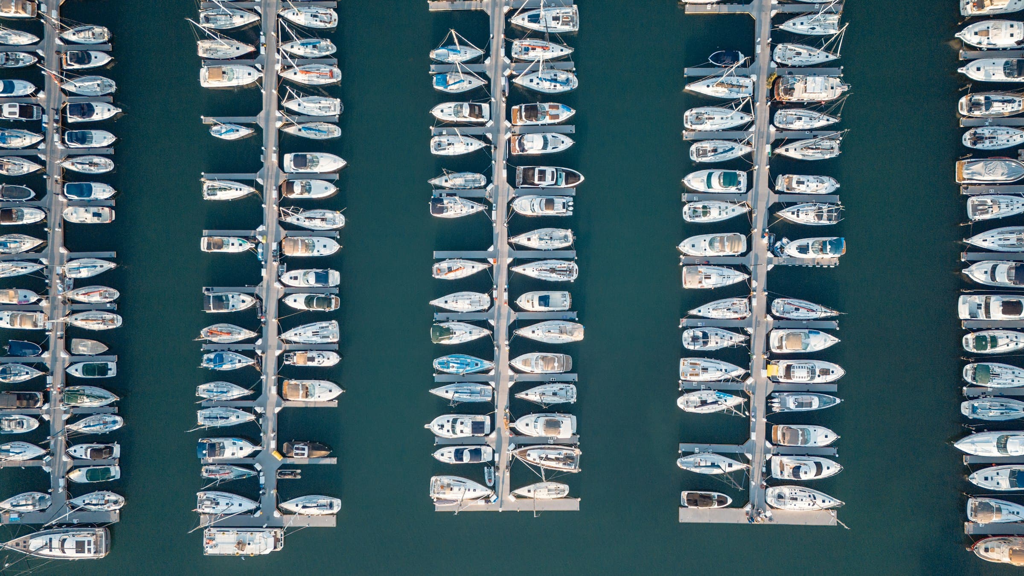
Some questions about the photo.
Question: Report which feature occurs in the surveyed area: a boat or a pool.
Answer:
boat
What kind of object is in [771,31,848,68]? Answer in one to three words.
boat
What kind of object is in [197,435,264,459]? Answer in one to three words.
boat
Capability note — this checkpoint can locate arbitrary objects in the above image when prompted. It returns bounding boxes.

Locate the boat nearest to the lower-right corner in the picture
[968,533,1024,566]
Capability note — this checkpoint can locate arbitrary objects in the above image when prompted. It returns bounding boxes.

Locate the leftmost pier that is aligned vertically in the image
[0,0,121,524]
